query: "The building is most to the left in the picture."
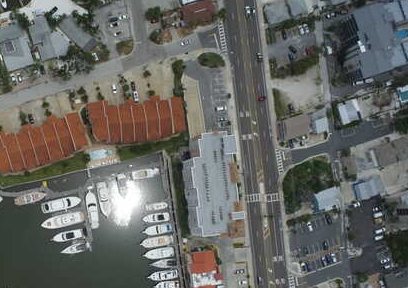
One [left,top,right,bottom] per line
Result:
[0,26,35,71]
